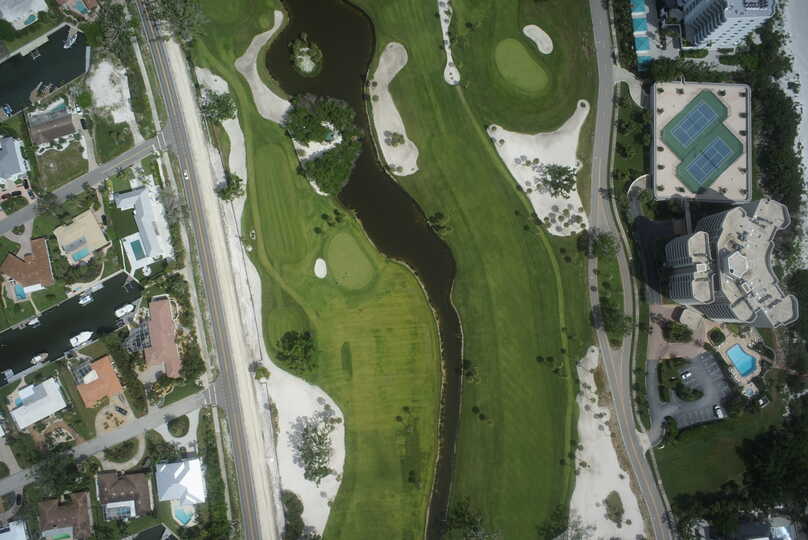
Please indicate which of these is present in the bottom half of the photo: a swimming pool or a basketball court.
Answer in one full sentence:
The one visible in the bottom half of the photo is a swimming pool.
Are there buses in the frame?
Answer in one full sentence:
No, there appears to be no bus in this shot.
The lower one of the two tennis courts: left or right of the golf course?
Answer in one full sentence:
It is on the right side of the golf course that the lower one of the two tennis courts is positioned.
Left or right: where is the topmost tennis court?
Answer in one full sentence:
The topmost tennis court appears in the right half of the scene.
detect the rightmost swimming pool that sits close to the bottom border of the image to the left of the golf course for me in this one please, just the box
[174,508,194,526]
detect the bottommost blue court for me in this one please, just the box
[686,137,734,184]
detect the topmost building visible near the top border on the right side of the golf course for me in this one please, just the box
[685,0,779,44]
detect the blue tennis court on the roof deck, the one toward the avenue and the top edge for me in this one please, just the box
[671,100,717,148]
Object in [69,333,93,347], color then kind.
white boat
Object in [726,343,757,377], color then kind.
blue swimming pool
